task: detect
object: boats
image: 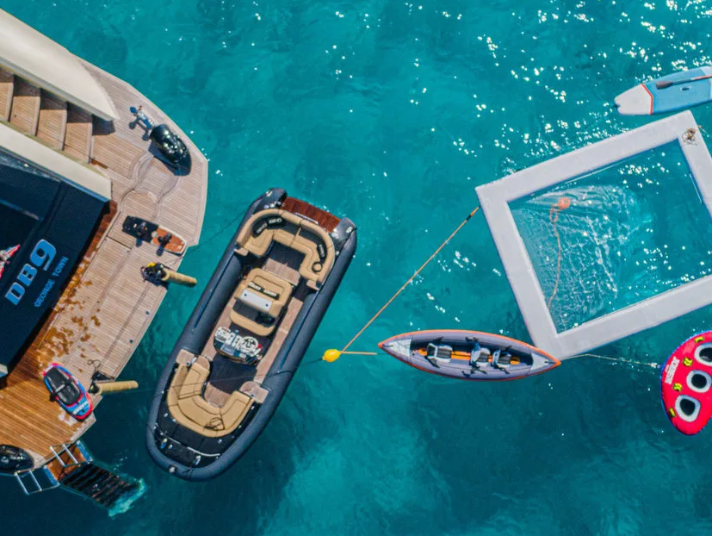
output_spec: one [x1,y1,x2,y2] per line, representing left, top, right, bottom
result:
[146,186,359,481]
[374,325,563,379]
[0,8,212,509]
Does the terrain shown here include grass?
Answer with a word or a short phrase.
No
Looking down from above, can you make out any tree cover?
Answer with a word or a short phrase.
No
